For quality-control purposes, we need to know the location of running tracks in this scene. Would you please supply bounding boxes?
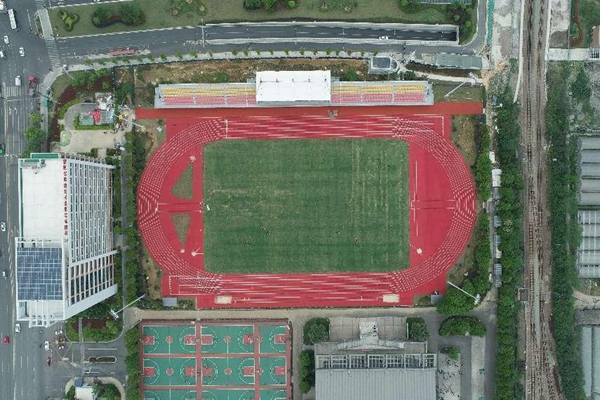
[135,104,483,308]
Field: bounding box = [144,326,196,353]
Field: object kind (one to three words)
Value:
basketball court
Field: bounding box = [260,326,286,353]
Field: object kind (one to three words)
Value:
basketball court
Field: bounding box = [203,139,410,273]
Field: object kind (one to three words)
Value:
sports field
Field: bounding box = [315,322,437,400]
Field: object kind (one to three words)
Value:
building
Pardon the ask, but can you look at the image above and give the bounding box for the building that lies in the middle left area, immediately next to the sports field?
[15,153,119,329]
